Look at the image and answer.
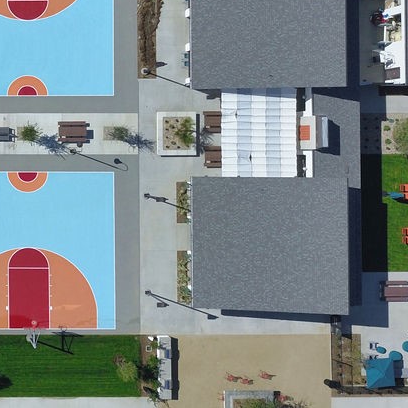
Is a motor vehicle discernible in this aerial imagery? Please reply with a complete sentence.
No, the picture doesn't show any motor vehicle.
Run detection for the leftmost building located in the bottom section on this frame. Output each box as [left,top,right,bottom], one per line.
[184,174,350,317]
